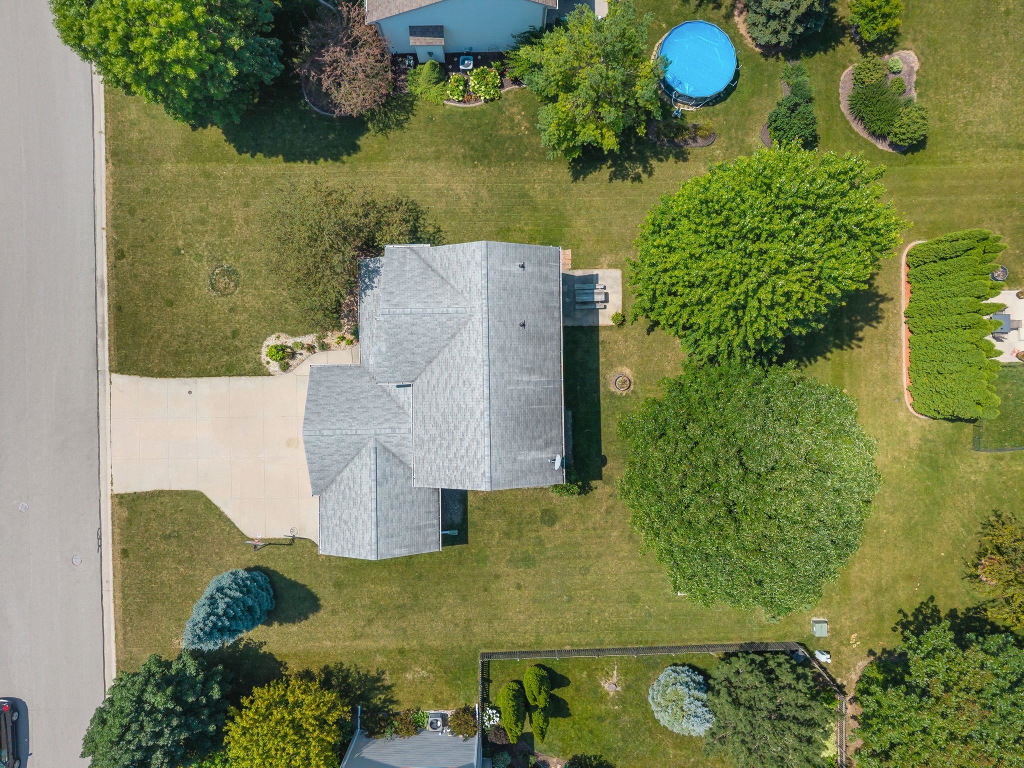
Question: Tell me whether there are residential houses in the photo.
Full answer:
Yes, there is a residential house in the image.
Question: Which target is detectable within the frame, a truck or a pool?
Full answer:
Visible in the photo is a pool.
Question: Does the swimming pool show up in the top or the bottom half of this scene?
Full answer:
The top half of the photo is where the swimming pool is.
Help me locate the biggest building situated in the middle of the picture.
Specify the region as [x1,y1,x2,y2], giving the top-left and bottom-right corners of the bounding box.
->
[302,240,568,559]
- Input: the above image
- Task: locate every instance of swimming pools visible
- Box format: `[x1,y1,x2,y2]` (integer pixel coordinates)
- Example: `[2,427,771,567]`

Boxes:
[652,19,742,110]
